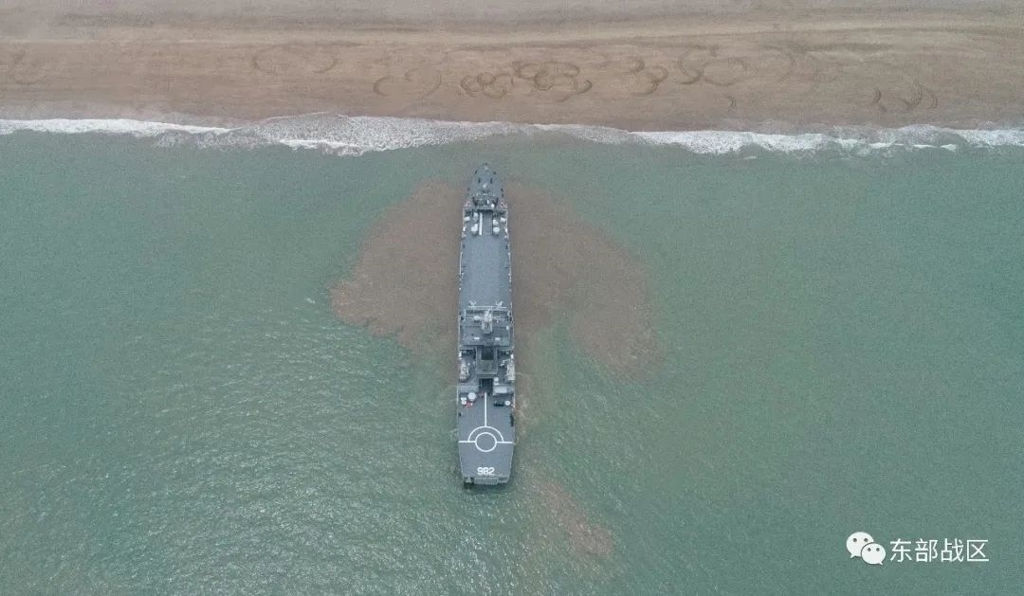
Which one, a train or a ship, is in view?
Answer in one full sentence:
The one in the frame is a ship.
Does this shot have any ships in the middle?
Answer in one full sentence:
Yes, a ship is visible in the middle.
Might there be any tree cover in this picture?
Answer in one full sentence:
No, no tree cover is visible.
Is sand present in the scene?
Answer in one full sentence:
Yes, some sand is visible.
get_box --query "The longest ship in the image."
[456,161,516,485]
